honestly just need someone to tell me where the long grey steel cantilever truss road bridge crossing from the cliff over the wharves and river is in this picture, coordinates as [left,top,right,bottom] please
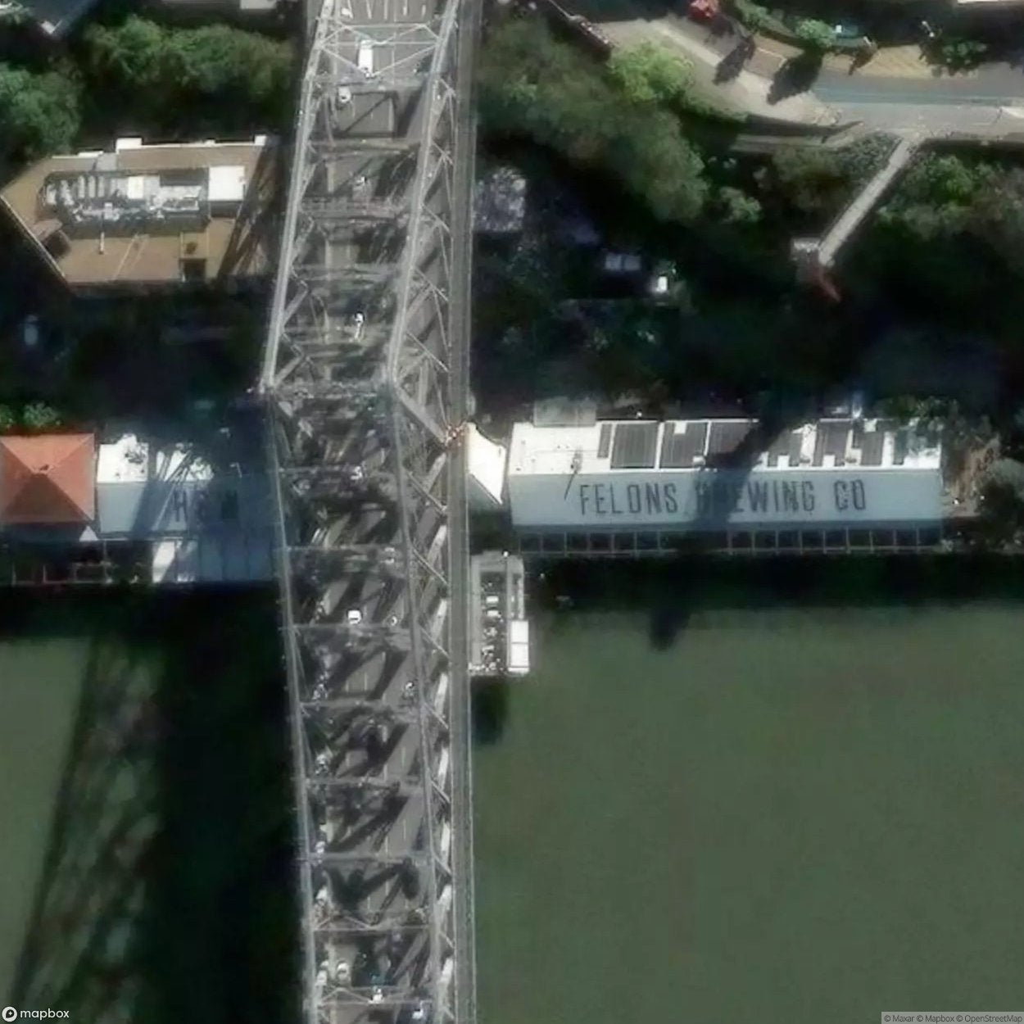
[258,0,483,1024]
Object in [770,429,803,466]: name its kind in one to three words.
solar panel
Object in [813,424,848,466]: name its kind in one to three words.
solar panel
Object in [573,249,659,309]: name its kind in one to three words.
building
